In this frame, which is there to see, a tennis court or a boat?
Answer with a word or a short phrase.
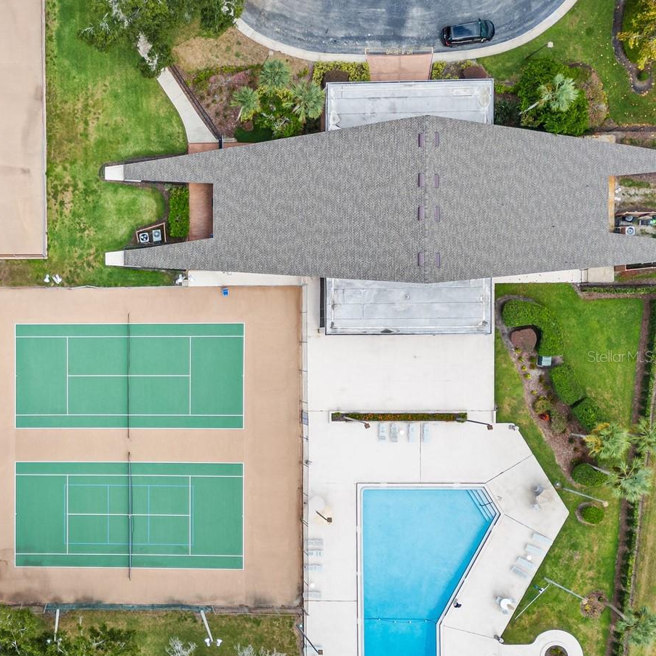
tennis court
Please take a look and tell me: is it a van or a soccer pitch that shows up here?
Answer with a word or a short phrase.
van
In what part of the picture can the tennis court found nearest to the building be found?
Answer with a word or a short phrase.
left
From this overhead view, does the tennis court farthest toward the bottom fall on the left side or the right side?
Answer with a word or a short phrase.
left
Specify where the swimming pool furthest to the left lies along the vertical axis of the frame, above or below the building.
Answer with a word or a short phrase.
below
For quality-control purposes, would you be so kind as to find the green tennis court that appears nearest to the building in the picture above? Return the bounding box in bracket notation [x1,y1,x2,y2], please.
[14,313,246,439]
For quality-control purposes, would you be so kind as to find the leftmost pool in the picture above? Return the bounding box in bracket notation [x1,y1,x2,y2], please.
[358,483,503,656]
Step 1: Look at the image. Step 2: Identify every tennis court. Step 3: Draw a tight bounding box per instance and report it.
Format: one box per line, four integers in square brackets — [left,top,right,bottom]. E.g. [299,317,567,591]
[14,313,246,439]
[13,452,246,580]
